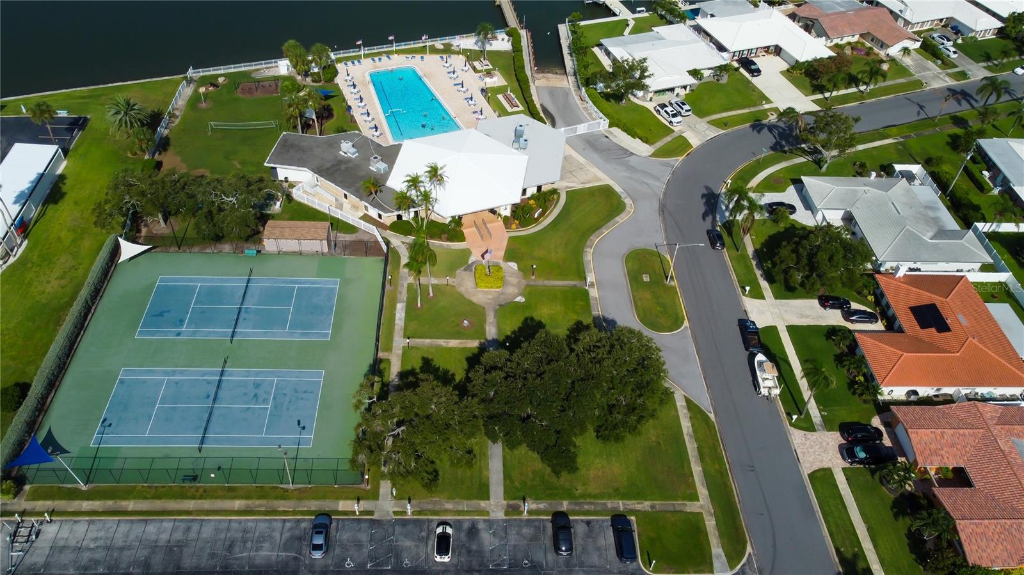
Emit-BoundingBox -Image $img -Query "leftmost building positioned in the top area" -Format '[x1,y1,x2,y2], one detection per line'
[0,144,73,286]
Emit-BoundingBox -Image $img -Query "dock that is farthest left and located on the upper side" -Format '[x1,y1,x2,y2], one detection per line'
[498,0,520,31]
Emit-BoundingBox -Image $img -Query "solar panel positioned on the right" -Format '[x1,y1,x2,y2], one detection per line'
[909,304,952,333]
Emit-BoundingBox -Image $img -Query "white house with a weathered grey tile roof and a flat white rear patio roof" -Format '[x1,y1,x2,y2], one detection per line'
[800,175,993,273]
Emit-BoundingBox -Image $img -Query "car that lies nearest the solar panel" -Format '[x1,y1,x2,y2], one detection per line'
[844,308,881,326]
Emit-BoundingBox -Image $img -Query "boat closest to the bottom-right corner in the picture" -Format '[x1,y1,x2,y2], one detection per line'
[758,351,787,401]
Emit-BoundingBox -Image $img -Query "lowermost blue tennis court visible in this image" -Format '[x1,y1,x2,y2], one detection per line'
[91,358,325,453]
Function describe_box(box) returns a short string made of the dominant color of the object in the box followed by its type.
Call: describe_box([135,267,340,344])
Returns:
blue tennis court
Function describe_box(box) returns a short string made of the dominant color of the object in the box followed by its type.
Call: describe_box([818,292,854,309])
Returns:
black car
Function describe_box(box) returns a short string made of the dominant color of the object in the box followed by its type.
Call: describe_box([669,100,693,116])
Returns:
white car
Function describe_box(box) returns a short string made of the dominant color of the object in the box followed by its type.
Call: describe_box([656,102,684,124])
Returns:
white truck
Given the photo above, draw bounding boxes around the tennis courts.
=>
[91,358,325,453]
[135,267,340,344]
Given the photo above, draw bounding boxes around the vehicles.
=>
[669,100,693,116]
[845,444,900,466]
[844,308,881,326]
[656,102,684,124]
[433,522,454,560]
[818,292,854,309]
[611,515,640,562]
[309,512,331,557]
[707,227,727,250]
[552,511,575,554]
[841,422,887,445]
[931,33,955,45]
[768,201,798,214]
[738,317,766,351]
[740,56,762,74]
[1014,63,1024,73]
